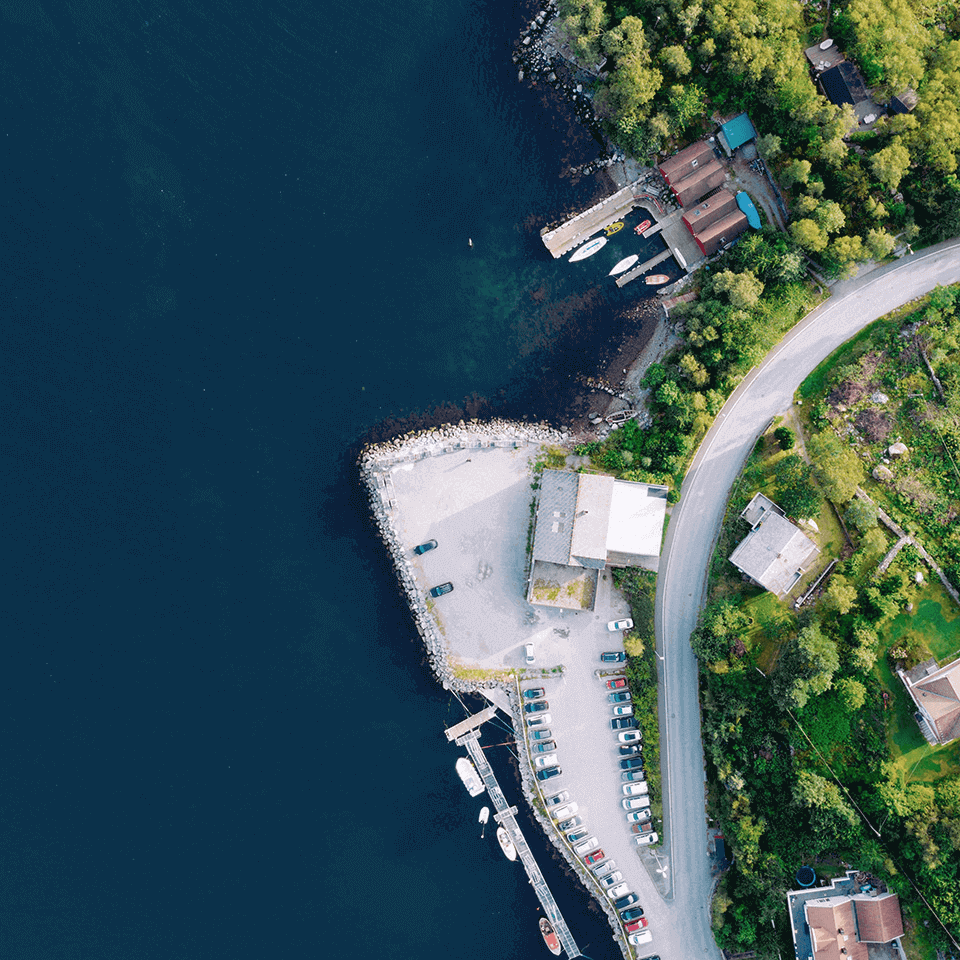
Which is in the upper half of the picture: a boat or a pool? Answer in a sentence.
There is a boat in the upper half of the picture.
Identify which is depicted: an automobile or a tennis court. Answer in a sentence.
Visible in the photo is an automobile.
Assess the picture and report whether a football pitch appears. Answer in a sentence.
No, the photo shows no football pitch.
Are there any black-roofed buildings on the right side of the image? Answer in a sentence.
Yes, a black-roofed building is visible on the right side of the image.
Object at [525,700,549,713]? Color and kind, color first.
blue vehicle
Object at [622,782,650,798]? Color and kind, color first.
white vehicle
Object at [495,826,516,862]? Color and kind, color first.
white boat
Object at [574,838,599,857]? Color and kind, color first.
white car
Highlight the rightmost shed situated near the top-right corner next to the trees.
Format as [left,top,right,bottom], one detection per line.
[886,86,917,116]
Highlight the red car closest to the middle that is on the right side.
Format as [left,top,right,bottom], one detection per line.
[606,678,629,691]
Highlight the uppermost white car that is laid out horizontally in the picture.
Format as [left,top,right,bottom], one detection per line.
[609,619,634,631]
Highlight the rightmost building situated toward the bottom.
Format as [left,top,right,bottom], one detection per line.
[899,654,960,744]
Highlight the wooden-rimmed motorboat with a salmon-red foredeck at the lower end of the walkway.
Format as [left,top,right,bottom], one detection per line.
[536,916,560,958]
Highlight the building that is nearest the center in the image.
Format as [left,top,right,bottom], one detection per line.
[532,470,614,569]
